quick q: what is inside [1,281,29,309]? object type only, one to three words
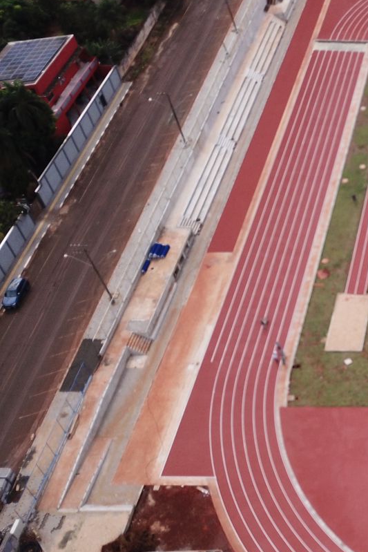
car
